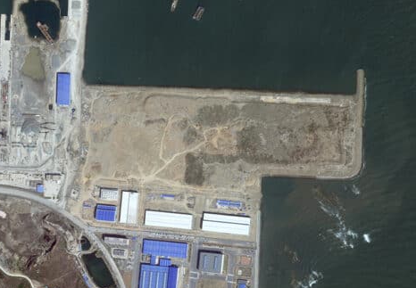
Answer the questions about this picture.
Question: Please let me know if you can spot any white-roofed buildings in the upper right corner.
No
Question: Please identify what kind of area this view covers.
port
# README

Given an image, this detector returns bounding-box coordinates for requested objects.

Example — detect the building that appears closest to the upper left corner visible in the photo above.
[57,73,71,106]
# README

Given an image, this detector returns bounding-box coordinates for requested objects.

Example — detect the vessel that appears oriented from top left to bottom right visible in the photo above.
[37,22,54,42]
